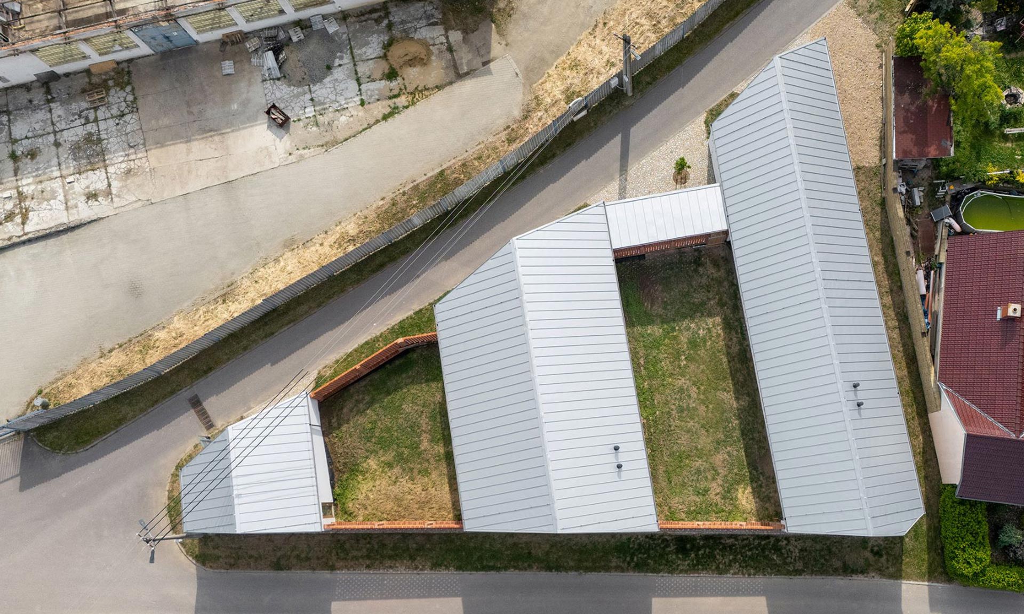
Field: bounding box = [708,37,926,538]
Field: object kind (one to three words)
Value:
house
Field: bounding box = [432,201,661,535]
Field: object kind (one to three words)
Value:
house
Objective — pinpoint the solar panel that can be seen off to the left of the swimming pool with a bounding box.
[926,205,952,225]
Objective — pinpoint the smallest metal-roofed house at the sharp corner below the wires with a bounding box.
[178,391,333,535]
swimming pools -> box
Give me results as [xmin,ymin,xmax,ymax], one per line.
[955,190,1024,230]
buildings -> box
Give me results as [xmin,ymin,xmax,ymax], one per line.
[0,0,389,88]
[708,37,926,538]
[929,227,1024,507]
[432,201,661,535]
[178,391,333,535]
[889,56,955,169]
